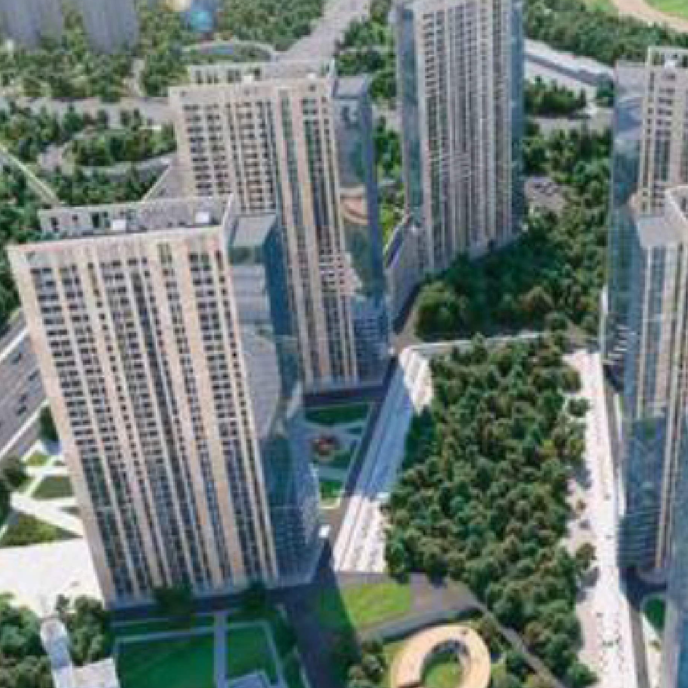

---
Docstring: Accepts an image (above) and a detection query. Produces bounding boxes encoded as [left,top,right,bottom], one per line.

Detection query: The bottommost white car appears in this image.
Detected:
[317,526,332,540]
